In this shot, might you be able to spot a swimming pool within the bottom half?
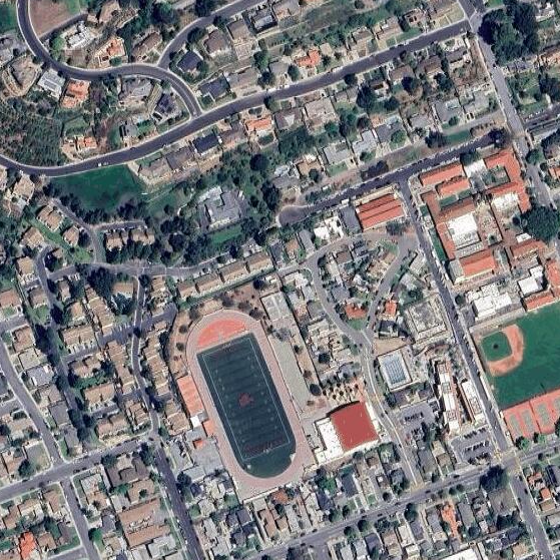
Yes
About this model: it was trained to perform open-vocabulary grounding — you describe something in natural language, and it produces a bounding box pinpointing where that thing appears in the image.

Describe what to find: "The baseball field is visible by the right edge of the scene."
[472,301,560,409]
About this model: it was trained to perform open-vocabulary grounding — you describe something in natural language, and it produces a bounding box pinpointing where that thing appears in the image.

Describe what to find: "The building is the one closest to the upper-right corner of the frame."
[536,0,559,23]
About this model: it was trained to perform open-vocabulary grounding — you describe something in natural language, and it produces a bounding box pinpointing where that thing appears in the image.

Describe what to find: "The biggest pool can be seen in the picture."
[379,350,411,388]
